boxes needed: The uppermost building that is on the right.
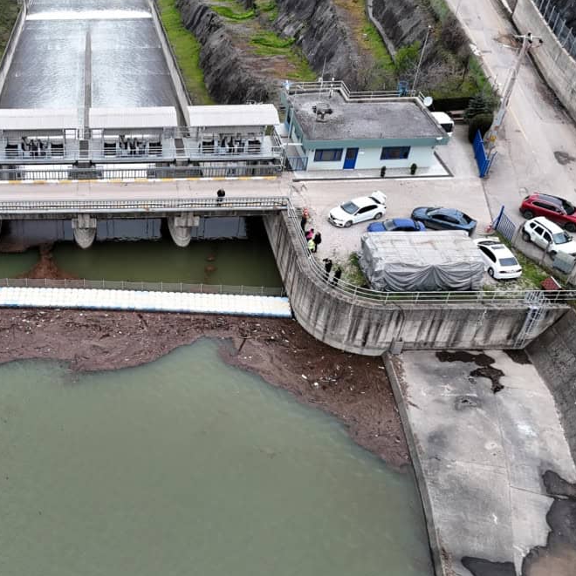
[282,61,452,180]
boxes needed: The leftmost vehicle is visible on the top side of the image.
[329,190,389,228]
